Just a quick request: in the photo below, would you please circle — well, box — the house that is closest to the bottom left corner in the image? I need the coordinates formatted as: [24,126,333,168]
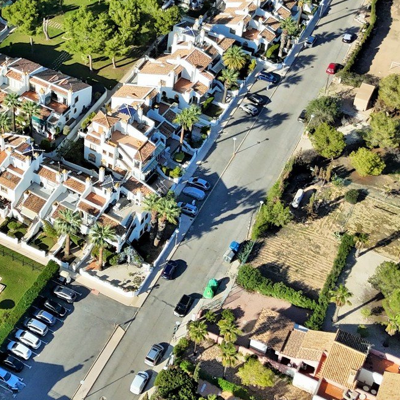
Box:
[0,130,142,276]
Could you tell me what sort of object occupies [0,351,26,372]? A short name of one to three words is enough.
car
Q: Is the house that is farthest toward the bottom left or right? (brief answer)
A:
right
